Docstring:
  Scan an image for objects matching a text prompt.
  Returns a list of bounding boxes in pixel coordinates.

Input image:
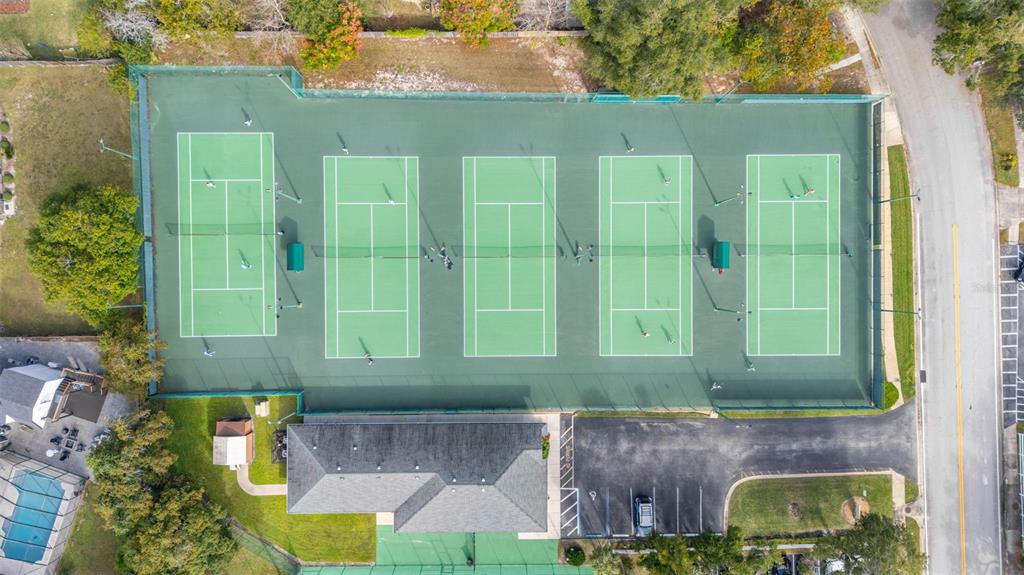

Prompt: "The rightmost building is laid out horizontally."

[287,410,547,533]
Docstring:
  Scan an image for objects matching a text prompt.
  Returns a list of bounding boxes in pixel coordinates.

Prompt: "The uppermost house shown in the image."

[0,364,65,428]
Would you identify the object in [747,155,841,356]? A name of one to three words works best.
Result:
tennis court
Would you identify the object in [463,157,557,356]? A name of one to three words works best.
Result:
tennis court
